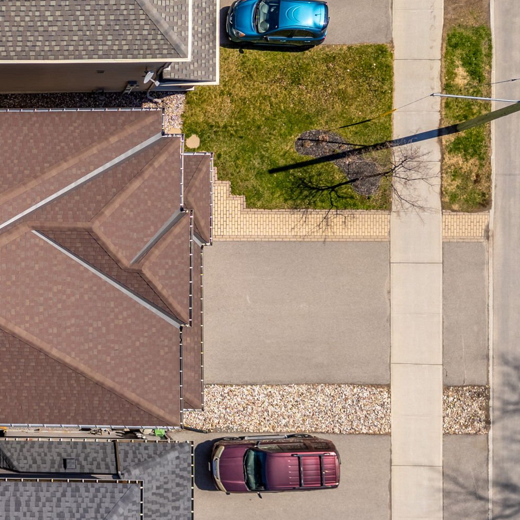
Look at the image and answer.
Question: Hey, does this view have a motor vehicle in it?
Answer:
Yes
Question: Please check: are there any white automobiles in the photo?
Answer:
No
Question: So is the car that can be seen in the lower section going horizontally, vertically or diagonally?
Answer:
horizontally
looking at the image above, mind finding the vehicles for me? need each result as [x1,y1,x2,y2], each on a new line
[211,434,340,499]
[225,0,332,52]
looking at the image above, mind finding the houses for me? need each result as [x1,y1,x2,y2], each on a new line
[0,107,213,426]
[0,0,220,108]
[0,433,194,520]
